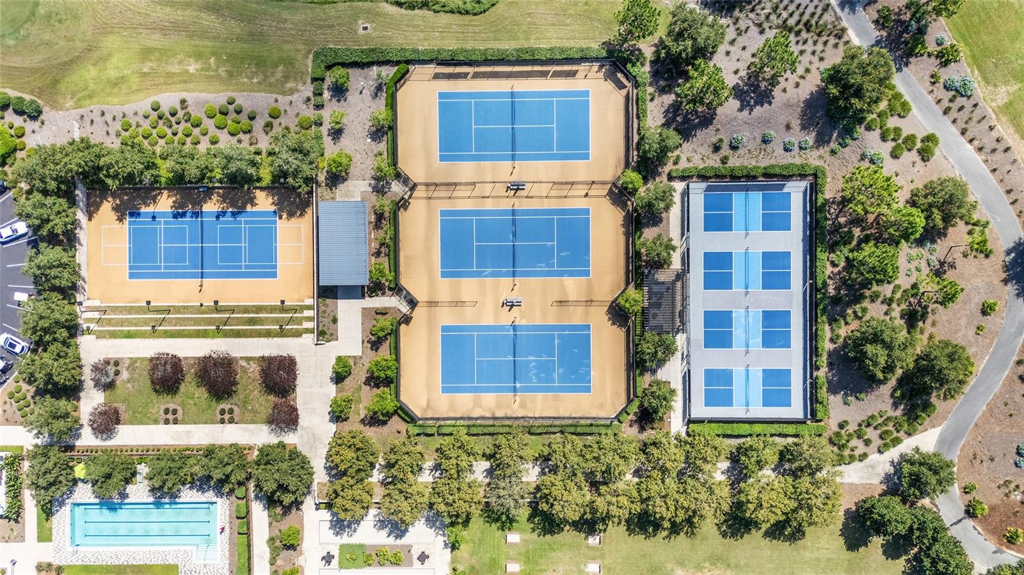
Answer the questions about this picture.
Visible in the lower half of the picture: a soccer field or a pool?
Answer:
pool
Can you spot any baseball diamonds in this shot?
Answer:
No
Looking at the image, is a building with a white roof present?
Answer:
No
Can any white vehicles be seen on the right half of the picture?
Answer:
No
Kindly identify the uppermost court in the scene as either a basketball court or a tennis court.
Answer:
tennis court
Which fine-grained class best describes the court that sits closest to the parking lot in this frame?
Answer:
tennis court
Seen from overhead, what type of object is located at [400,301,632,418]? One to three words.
tennis court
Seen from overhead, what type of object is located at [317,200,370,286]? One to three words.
building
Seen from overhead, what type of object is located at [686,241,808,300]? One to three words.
sports court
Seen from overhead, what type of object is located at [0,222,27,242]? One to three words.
car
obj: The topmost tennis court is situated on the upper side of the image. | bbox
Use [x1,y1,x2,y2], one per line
[397,65,631,184]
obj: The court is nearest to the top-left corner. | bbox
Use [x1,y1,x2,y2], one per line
[86,189,310,302]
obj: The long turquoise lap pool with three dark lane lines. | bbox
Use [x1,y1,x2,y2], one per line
[66,499,223,568]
